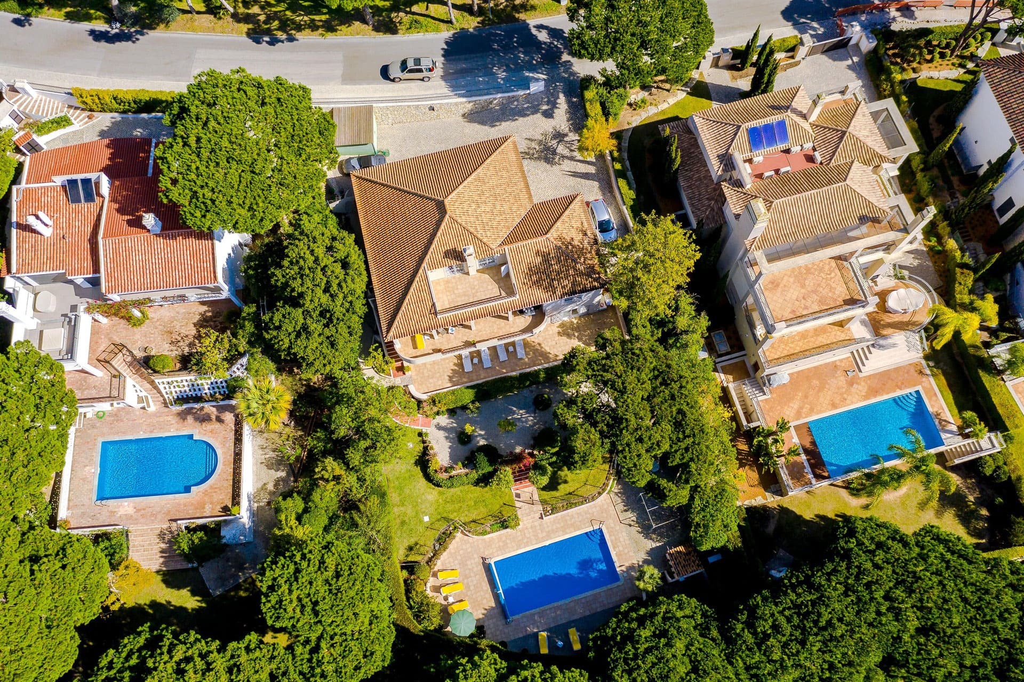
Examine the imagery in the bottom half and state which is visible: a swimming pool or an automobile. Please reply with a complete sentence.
It is a swimming pool that can be seen in the bottom half.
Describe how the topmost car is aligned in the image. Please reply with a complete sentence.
What the image shows is the topmost car lying horizontally.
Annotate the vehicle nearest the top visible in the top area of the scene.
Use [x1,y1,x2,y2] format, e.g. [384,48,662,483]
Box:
[387,57,437,82]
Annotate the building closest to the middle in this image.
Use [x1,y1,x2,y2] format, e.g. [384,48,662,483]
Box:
[351,134,607,368]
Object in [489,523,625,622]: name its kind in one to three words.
swimming pool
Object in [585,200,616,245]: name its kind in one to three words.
car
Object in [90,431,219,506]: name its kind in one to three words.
swimming pool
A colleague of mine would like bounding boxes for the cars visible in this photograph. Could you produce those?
[585,200,616,245]
[387,57,437,82]
[339,150,387,178]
